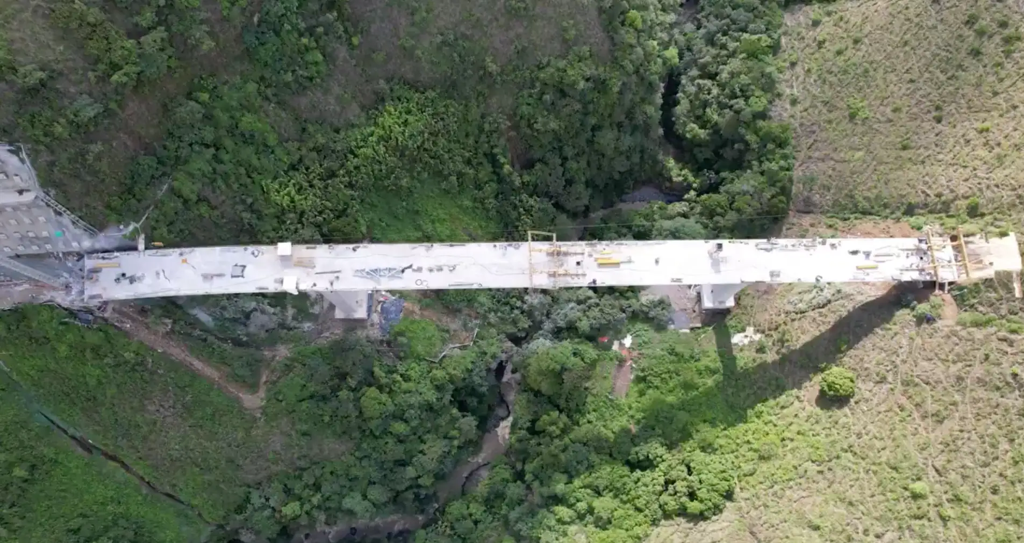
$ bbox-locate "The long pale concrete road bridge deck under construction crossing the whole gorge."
[84,238,953,319]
